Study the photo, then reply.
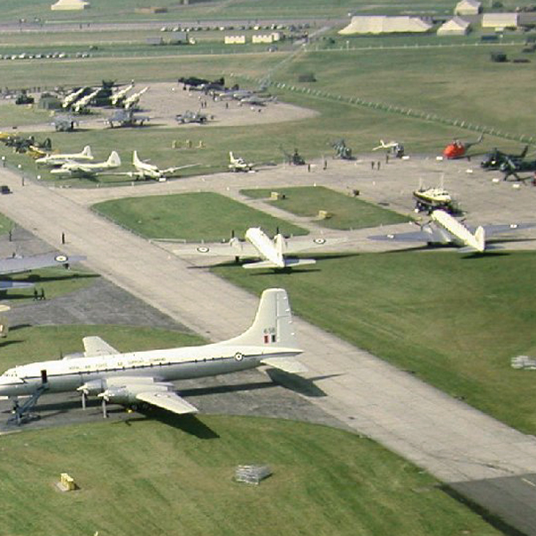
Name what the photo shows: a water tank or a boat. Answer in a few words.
boat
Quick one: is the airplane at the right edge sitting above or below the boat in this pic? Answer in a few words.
below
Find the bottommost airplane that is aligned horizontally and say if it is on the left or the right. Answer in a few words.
left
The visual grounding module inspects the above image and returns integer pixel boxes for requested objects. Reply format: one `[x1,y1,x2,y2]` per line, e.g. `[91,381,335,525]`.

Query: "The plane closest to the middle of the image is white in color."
[174,227,350,277]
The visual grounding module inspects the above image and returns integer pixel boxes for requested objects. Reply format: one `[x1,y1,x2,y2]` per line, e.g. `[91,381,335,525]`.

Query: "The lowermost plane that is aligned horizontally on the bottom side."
[0,291,307,419]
